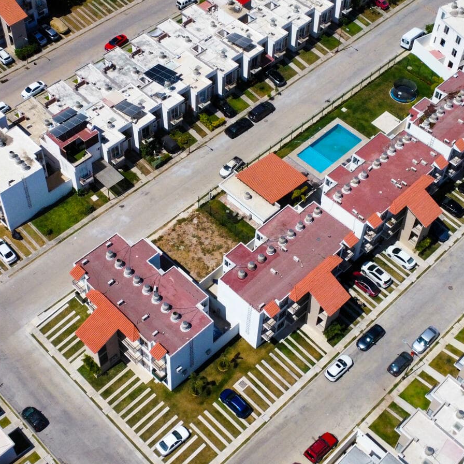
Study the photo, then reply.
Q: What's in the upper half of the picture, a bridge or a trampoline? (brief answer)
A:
trampoline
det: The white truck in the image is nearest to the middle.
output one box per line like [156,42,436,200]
[215,154,248,179]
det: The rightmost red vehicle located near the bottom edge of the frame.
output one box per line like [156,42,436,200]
[303,431,338,464]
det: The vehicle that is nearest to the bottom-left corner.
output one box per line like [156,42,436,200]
[21,405,51,436]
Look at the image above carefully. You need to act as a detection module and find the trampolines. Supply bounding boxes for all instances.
[388,74,417,103]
